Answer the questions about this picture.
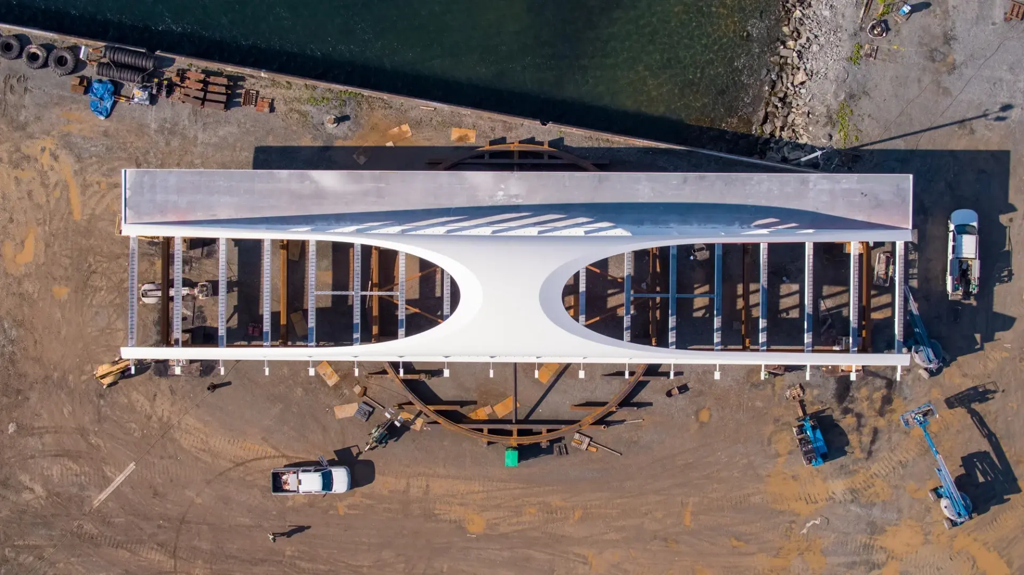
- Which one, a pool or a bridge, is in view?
bridge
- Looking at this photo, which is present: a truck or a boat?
truck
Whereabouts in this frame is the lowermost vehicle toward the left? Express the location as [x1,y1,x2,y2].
[270,453,352,495]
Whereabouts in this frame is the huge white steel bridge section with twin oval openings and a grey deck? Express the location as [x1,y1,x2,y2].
[115,170,917,380]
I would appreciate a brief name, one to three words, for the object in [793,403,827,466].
work vehicle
